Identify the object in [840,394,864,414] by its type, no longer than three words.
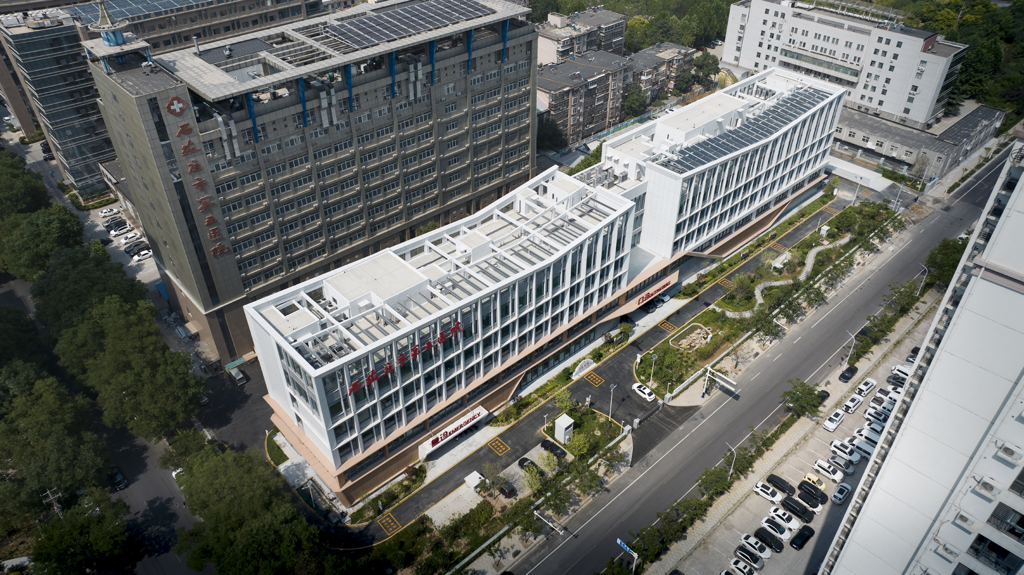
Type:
car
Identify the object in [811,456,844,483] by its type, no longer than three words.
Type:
car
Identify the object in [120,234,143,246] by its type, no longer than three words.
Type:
vehicle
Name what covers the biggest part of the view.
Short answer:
buildings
